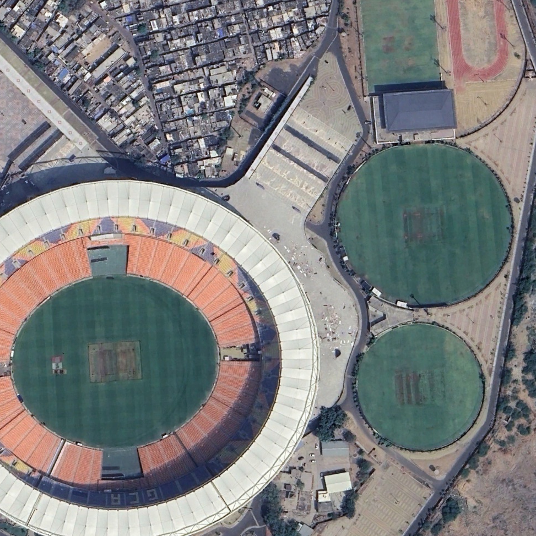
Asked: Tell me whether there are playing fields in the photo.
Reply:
Yes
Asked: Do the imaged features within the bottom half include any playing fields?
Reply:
Yes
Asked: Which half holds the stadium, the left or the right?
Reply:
left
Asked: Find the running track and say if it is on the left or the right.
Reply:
right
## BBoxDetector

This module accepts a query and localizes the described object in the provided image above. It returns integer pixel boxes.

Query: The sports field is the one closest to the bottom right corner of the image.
[355,321,486,451]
